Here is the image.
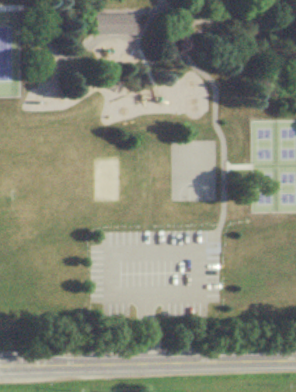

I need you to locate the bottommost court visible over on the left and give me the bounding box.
[94,158,119,202]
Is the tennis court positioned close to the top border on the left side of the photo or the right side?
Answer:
left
